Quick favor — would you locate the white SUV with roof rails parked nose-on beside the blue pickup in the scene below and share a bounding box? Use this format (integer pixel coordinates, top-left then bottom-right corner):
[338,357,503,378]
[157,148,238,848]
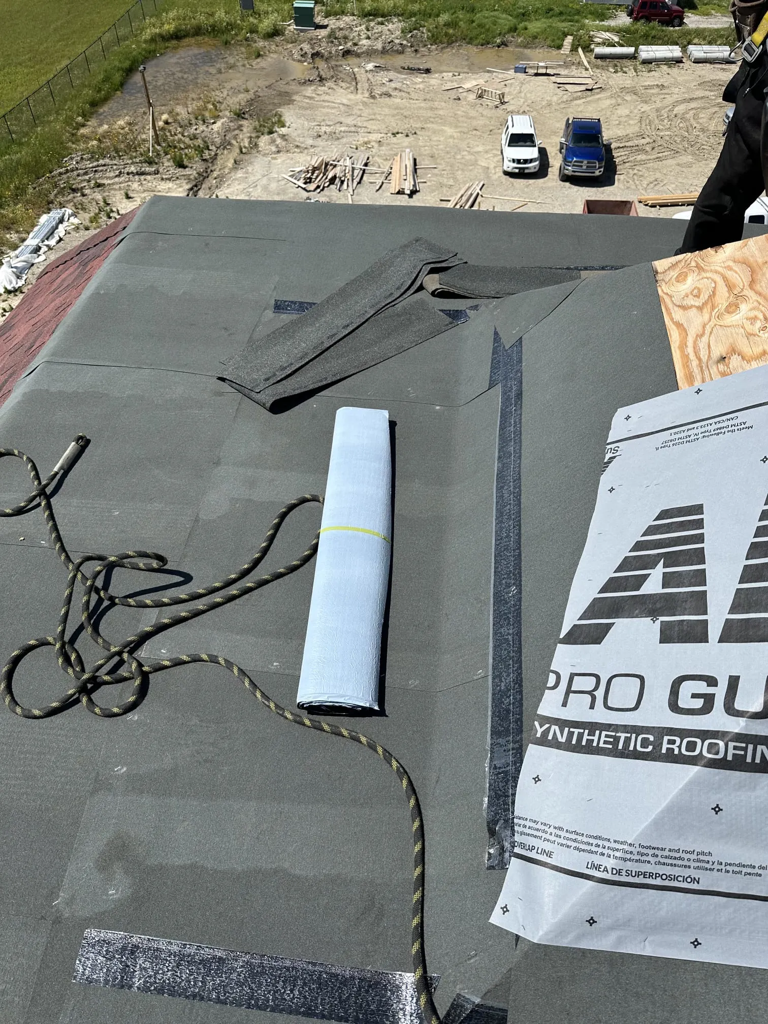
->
[500,113,546,172]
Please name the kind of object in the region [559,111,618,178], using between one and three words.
truck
